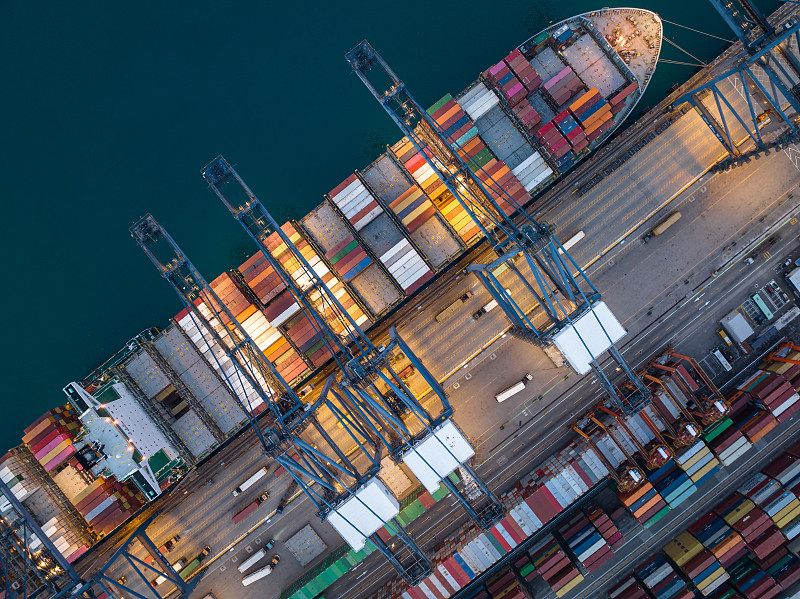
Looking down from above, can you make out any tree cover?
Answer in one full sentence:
No, there is no tree cover in the image.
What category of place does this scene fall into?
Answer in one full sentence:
This looks like a port.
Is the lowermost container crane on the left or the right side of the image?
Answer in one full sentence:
The lowermost container crane appears in the left half of the scene.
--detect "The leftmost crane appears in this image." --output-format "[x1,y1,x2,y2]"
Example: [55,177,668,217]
[0,480,213,599]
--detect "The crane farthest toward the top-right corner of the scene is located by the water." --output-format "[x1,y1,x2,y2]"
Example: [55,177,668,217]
[661,0,800,180]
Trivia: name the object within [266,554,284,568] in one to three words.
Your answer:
vehicle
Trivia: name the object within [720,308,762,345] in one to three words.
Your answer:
building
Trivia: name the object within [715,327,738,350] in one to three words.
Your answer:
bus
